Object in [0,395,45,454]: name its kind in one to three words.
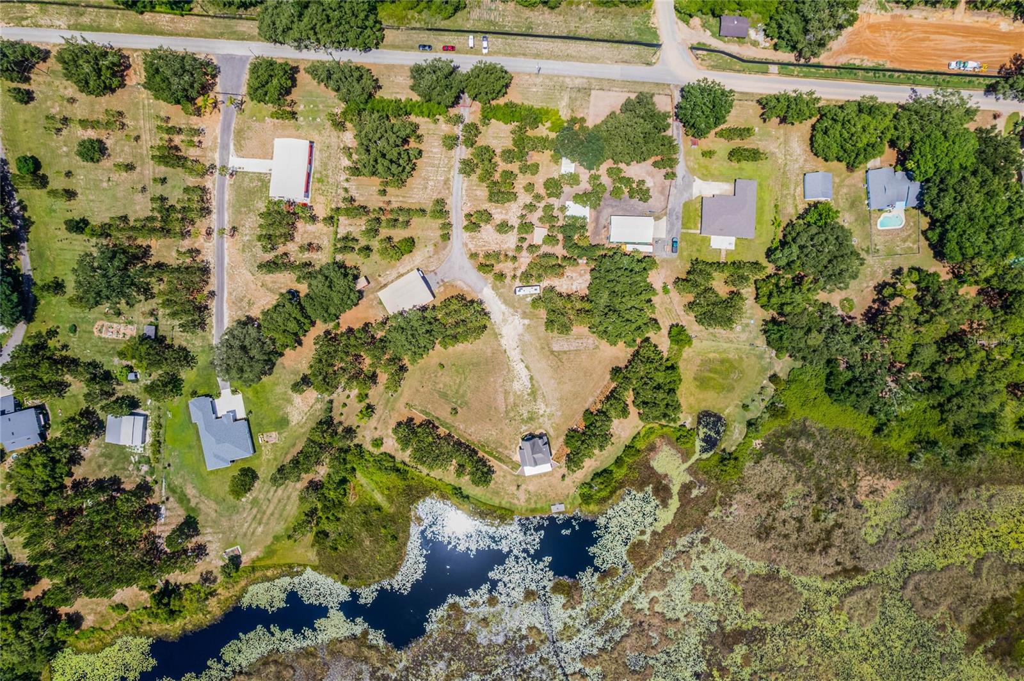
house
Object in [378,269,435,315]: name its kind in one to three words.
barn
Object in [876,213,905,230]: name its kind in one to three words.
swimming pool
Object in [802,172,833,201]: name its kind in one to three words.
shed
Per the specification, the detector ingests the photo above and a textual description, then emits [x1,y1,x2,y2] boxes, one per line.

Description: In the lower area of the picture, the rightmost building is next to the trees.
[519,432,555,476]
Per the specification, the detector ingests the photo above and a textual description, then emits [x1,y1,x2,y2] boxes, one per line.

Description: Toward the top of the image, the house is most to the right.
[864,166,920,209]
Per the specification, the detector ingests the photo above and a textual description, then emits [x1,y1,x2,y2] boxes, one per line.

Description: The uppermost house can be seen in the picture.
[719,15,749,40]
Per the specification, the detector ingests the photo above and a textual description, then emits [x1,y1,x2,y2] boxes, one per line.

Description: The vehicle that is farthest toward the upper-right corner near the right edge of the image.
[946,59,985,72]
